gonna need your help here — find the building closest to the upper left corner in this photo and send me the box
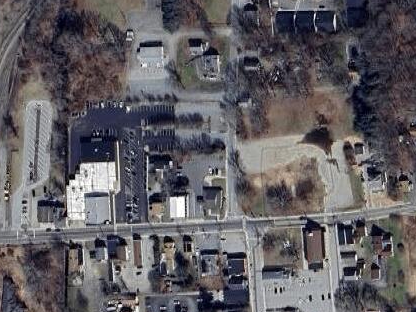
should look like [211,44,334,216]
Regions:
[138,45,164,67]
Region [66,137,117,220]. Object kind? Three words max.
building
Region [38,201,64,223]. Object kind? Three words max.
building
